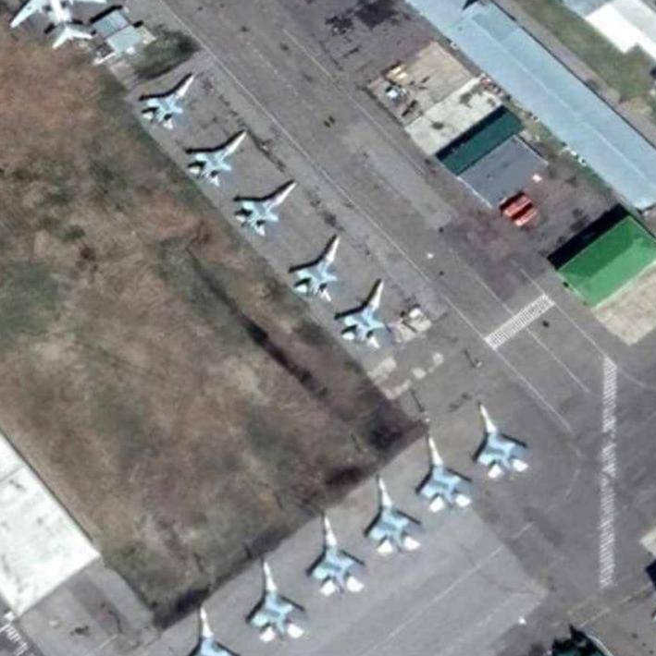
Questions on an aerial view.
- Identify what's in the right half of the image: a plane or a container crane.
plane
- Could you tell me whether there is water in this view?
No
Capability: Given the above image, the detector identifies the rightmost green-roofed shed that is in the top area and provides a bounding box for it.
[558,214,656,308]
